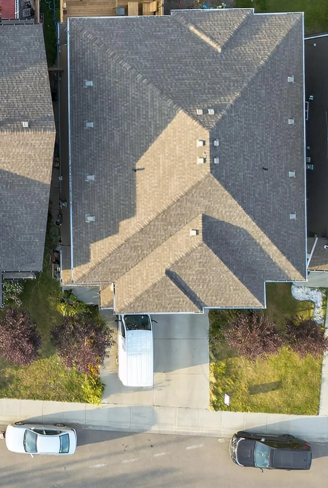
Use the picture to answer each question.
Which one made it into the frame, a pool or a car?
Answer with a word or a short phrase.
car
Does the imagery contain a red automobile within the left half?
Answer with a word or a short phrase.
No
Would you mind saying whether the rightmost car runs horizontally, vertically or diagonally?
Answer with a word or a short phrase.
horizontally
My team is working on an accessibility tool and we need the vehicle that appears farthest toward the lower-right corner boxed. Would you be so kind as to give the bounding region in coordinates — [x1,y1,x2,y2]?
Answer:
[227,431,311,471]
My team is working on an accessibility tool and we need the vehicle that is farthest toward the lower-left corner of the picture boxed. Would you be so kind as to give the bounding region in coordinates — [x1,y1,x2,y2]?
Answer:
[4,421,77,457]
